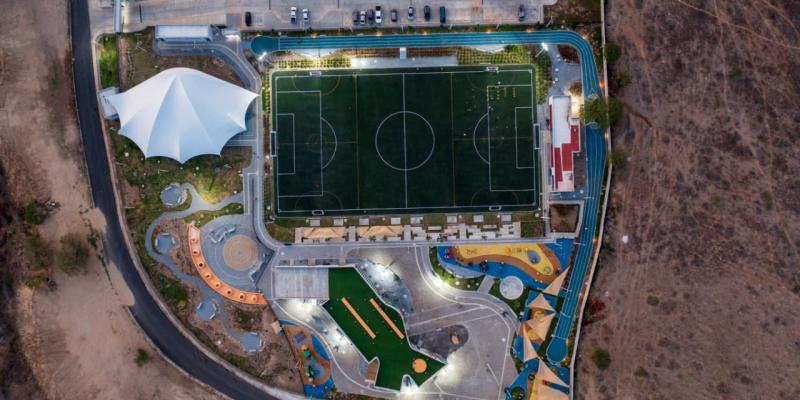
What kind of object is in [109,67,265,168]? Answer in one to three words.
tent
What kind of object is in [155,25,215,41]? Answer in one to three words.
building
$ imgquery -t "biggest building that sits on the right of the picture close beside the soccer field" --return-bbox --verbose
[549,97,580,192]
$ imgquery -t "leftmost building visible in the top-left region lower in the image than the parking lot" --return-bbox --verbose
[98,87,121,120]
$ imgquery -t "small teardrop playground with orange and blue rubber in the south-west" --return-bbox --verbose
[280,320,334,397]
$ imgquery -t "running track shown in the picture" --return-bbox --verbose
[250,30,605,363]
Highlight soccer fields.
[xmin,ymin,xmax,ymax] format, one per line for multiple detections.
[274,65,539,217]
